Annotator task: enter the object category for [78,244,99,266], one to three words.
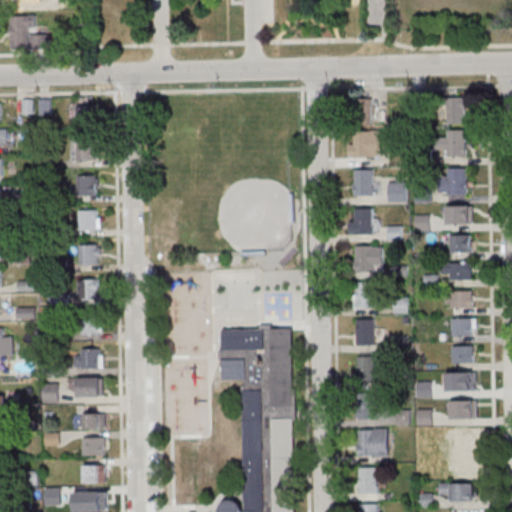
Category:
house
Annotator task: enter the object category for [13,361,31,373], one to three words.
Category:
swimming pool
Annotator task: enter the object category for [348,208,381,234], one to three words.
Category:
house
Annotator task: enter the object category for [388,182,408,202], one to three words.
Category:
building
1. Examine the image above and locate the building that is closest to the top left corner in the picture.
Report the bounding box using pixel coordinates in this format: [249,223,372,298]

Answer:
[8,14,46,48]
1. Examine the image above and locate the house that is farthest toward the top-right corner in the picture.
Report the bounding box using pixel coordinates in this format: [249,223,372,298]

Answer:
[437,97,465,126]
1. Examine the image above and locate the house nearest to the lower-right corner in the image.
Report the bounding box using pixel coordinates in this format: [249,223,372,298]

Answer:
[439,484,473,502]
